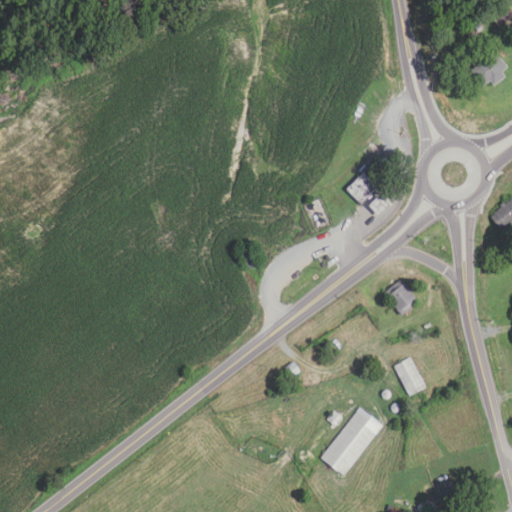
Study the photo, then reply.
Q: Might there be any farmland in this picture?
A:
Yes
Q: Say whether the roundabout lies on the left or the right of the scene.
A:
right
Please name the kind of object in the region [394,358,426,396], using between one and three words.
barn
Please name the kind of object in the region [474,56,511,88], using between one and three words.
house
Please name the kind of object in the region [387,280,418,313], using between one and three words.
house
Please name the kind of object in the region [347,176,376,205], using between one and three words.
building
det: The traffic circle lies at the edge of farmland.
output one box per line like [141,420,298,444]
[374,58,512,262]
